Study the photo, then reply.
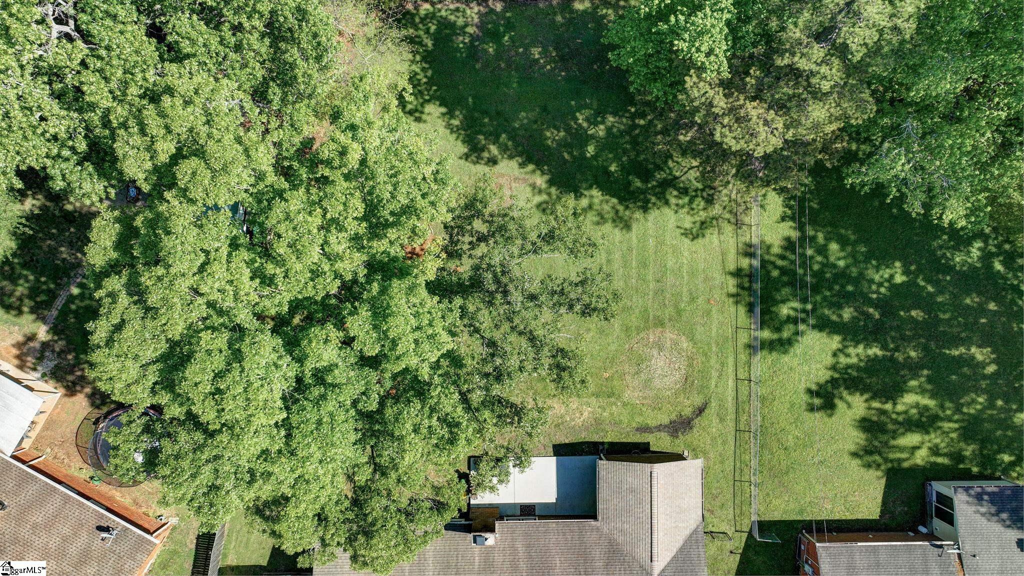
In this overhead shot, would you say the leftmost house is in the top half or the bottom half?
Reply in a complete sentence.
The leftmost house sits in the bottom half of the picture.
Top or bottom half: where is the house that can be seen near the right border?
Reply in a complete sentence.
The bottom half of the photo is where the house that can be seen near the right border is.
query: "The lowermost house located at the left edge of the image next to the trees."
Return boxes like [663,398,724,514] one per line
[0,374,179,576]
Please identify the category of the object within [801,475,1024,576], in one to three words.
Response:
house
